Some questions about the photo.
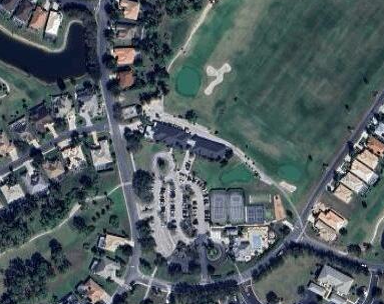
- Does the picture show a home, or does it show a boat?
home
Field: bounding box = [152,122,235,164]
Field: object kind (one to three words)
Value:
building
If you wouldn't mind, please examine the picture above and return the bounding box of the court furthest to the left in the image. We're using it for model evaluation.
[210,189,227,224]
